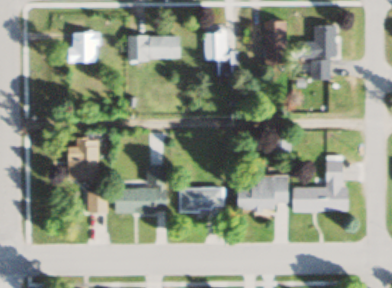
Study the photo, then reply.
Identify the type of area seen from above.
residential area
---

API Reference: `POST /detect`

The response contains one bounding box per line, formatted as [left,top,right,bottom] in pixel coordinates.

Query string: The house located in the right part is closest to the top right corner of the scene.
[300,24,336,80]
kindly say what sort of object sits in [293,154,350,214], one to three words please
house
